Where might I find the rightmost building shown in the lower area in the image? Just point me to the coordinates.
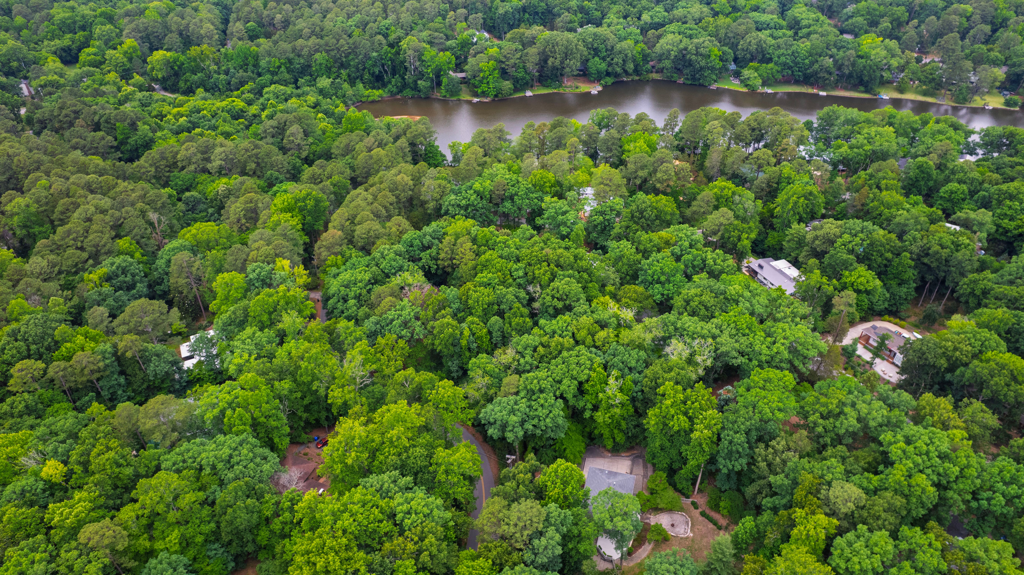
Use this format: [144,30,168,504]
[854,325,909,371]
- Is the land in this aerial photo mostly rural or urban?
rural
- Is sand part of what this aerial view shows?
No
